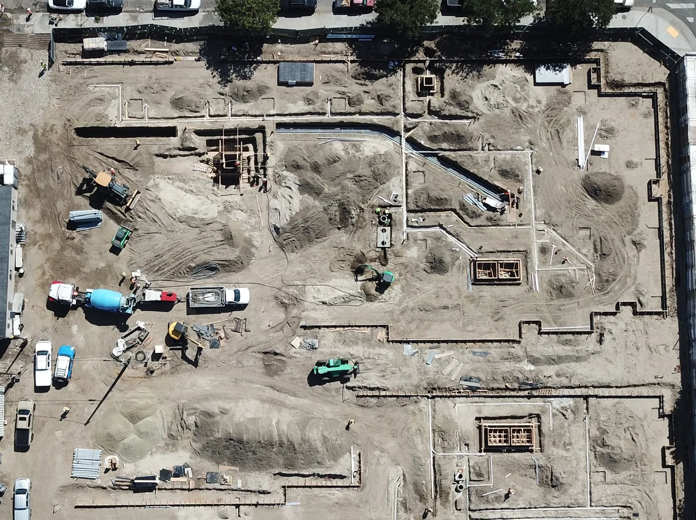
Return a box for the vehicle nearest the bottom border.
[13,479,34,520]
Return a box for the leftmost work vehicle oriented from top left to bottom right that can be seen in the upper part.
[79,163,133,207]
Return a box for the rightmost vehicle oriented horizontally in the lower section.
[313,358,369,381]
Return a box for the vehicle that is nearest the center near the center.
[357,260,394,289]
